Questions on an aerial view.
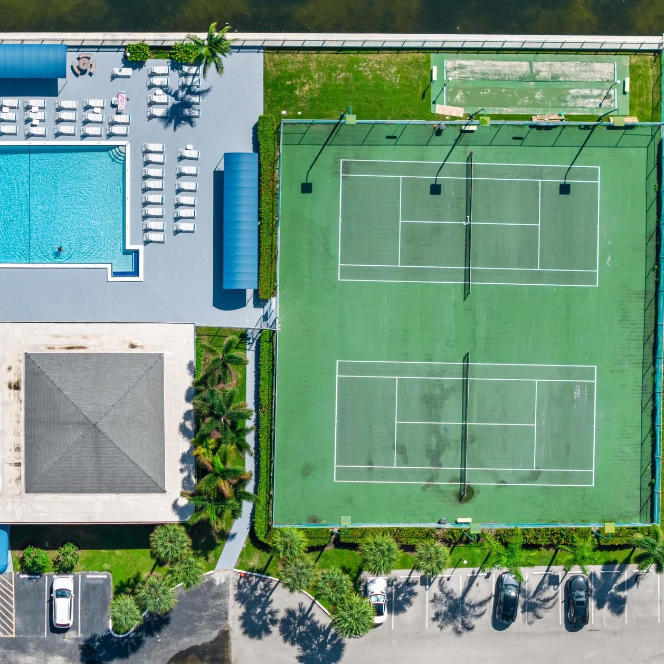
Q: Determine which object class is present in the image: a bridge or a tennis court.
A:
tennis court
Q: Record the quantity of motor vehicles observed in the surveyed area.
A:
four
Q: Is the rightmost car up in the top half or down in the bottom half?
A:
bottom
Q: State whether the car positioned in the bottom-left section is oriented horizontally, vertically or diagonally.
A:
vertically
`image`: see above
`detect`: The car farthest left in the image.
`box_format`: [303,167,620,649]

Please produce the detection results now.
[50,574,75,628]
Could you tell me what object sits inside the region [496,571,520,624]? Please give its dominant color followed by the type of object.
black car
